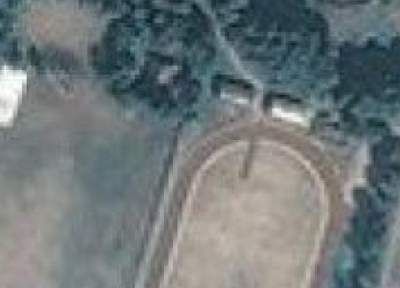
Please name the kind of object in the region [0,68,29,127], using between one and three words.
building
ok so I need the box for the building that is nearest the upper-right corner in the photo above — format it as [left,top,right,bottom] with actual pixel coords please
[270,91,317,125]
